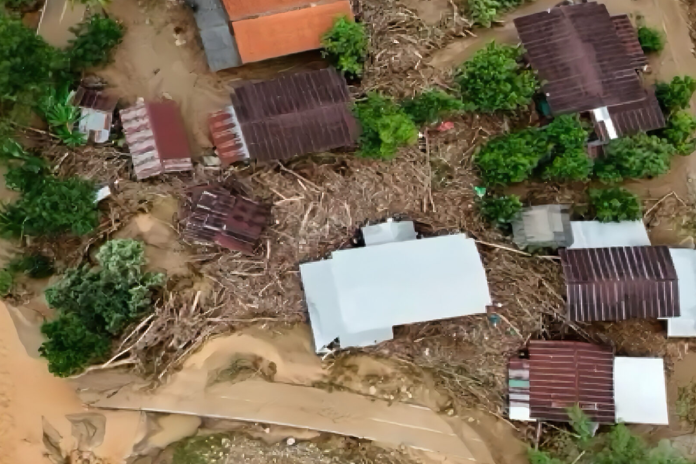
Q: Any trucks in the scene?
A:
No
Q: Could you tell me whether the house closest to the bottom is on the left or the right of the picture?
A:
right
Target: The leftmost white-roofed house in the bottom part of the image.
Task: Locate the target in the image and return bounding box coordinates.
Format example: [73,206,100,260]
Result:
[300,220,492,352]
